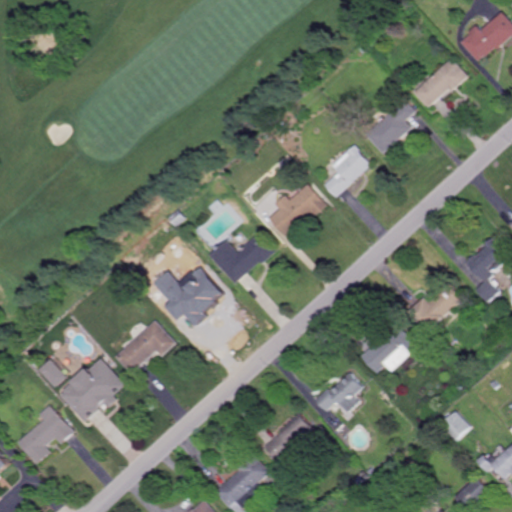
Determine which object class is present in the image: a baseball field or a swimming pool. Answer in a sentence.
The image shows a swimming pool.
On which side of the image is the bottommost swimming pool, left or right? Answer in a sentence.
You can find the bottommost swimming pool on the right side of the picture.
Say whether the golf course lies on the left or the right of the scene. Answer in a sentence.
The golf course is on the left side of the image.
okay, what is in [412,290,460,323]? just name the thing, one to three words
house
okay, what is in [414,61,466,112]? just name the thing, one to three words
house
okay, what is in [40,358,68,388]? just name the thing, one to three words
building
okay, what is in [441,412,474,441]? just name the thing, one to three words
barn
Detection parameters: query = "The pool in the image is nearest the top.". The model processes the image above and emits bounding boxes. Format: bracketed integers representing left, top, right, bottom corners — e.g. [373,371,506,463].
[196,200,244,248]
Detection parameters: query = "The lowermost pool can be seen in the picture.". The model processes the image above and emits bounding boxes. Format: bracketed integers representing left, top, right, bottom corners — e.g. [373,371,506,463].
[348,424,372,452]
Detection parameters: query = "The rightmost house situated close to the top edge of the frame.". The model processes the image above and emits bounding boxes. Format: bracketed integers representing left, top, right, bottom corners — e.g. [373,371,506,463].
[458,12,512,62]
